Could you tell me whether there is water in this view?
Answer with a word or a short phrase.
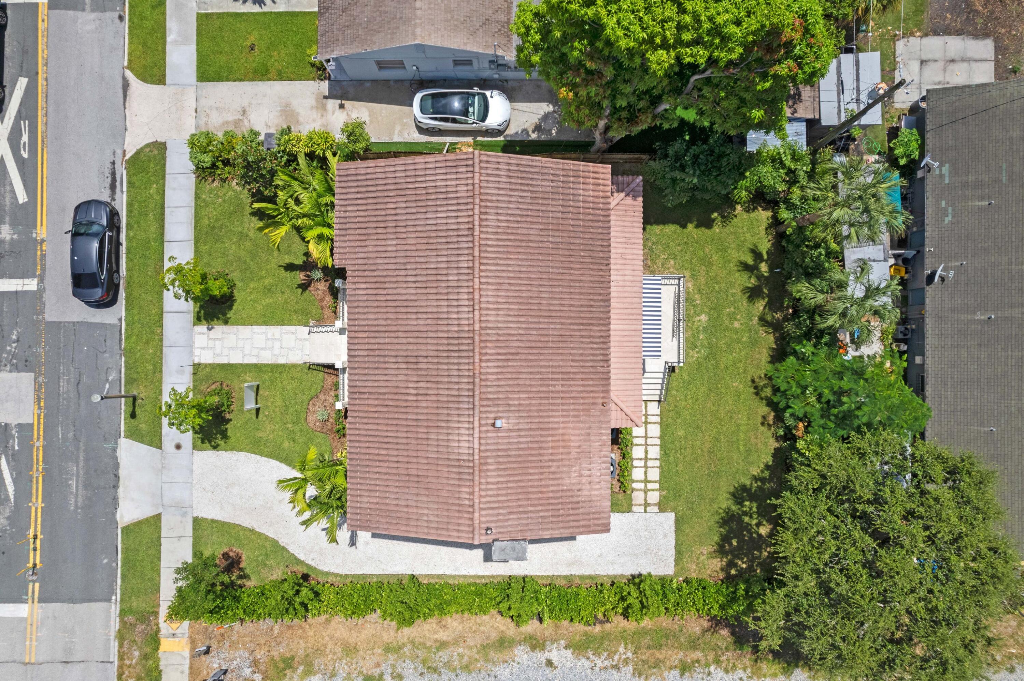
No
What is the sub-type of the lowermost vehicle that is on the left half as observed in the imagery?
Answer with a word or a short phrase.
automobile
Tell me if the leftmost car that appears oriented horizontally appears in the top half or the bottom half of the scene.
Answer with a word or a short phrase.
top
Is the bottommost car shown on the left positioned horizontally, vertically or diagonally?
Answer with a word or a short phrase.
vertically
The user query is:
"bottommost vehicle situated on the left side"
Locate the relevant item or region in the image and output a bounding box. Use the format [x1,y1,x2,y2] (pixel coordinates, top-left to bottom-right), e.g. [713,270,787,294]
[67,198,122,303]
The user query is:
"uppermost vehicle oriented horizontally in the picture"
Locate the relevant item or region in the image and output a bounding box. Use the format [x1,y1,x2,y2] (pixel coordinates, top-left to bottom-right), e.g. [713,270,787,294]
[409,83,514,132]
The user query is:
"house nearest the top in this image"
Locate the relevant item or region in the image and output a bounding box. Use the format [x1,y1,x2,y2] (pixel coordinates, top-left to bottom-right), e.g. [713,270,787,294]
[317,0,518,81]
